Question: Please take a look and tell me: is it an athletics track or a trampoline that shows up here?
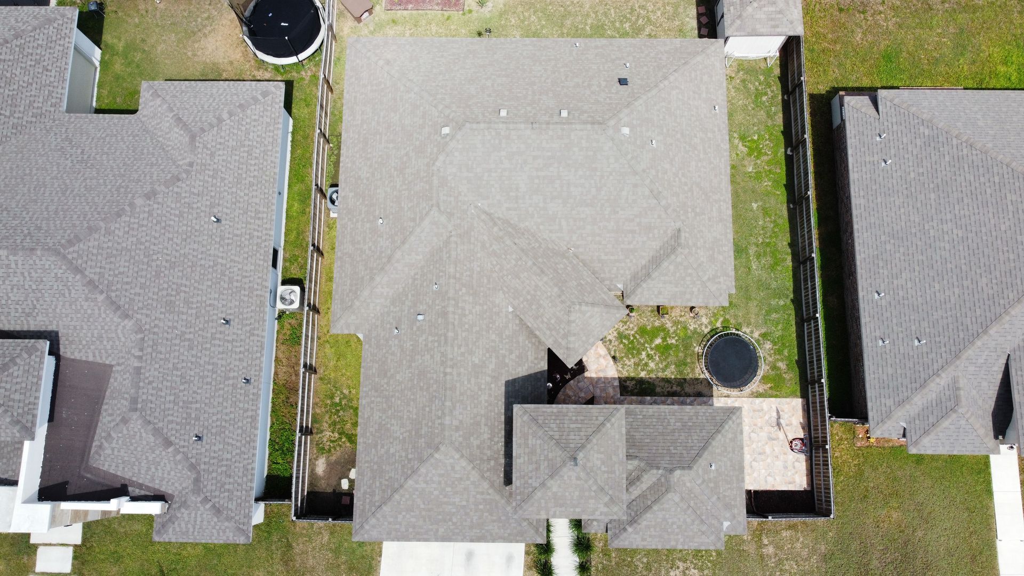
trampoline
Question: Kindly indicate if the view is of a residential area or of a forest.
residential area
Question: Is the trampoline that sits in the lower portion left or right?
right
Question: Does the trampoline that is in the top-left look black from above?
Yes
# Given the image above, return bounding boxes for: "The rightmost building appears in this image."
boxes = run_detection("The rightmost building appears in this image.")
[813,87,1024,458]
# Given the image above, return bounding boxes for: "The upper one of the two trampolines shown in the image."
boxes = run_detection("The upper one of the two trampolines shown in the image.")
[232,0,324,70]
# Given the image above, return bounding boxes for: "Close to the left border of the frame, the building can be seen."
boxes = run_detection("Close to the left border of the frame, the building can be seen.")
[0,7,295,543]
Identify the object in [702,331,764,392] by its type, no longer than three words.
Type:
trampoline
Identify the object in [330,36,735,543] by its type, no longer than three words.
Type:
house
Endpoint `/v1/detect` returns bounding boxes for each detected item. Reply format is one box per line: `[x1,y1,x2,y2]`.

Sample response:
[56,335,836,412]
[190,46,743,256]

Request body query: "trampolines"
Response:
[702,331,764,392]
[232,0,324,70]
